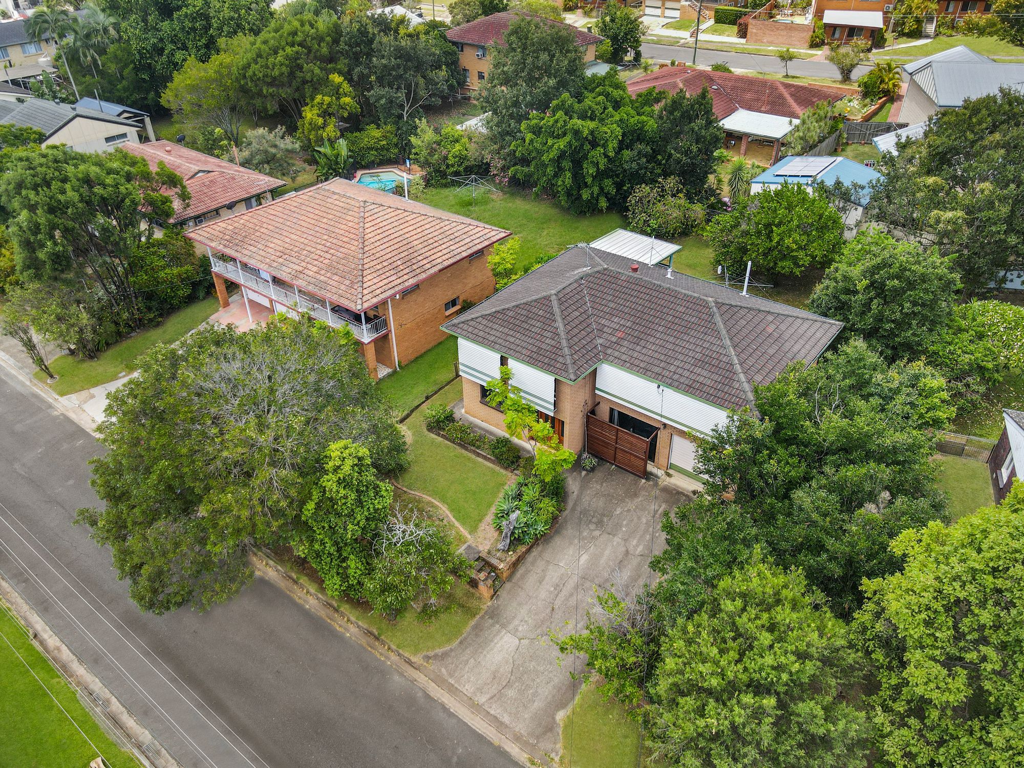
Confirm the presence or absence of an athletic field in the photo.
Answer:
No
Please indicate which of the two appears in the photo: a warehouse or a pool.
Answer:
pool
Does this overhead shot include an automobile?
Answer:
No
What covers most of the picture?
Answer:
trees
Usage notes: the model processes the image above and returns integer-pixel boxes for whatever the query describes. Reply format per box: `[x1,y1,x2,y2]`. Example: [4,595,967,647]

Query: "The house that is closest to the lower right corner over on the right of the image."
[986,403,1024,486]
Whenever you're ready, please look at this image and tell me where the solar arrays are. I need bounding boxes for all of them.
[775,157,837,176]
